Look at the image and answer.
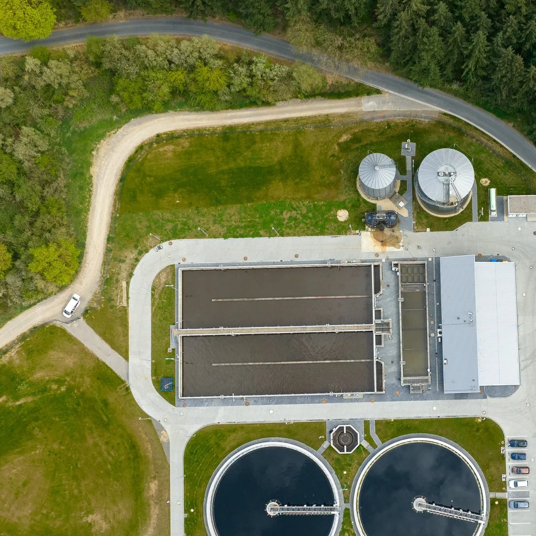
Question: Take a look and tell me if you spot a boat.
No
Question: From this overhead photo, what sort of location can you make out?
industrial area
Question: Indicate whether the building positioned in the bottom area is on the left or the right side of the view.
right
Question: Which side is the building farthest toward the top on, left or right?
right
